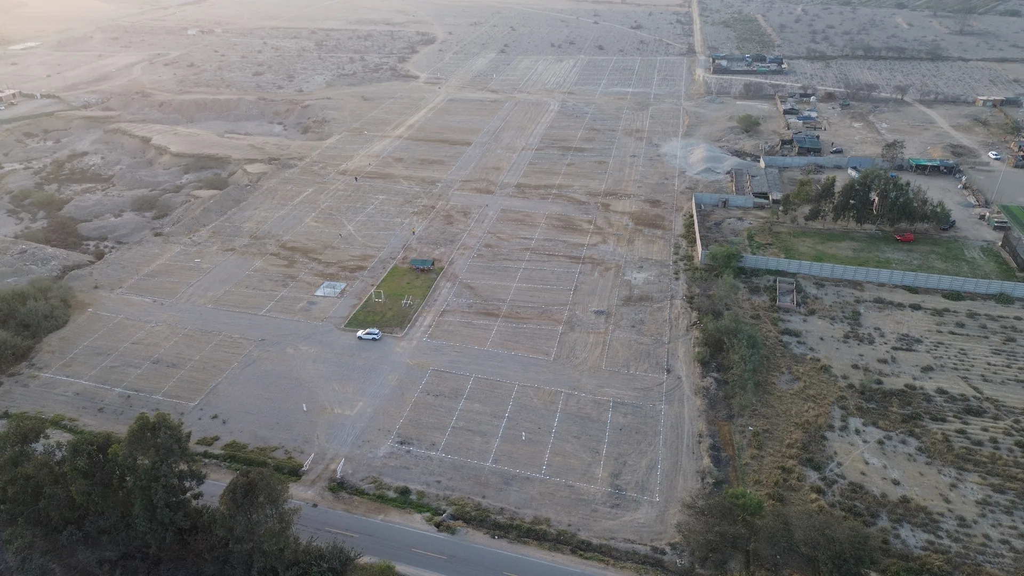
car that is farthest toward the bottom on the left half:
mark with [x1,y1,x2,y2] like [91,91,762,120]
[355,327,383,342]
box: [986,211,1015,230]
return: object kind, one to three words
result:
shed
